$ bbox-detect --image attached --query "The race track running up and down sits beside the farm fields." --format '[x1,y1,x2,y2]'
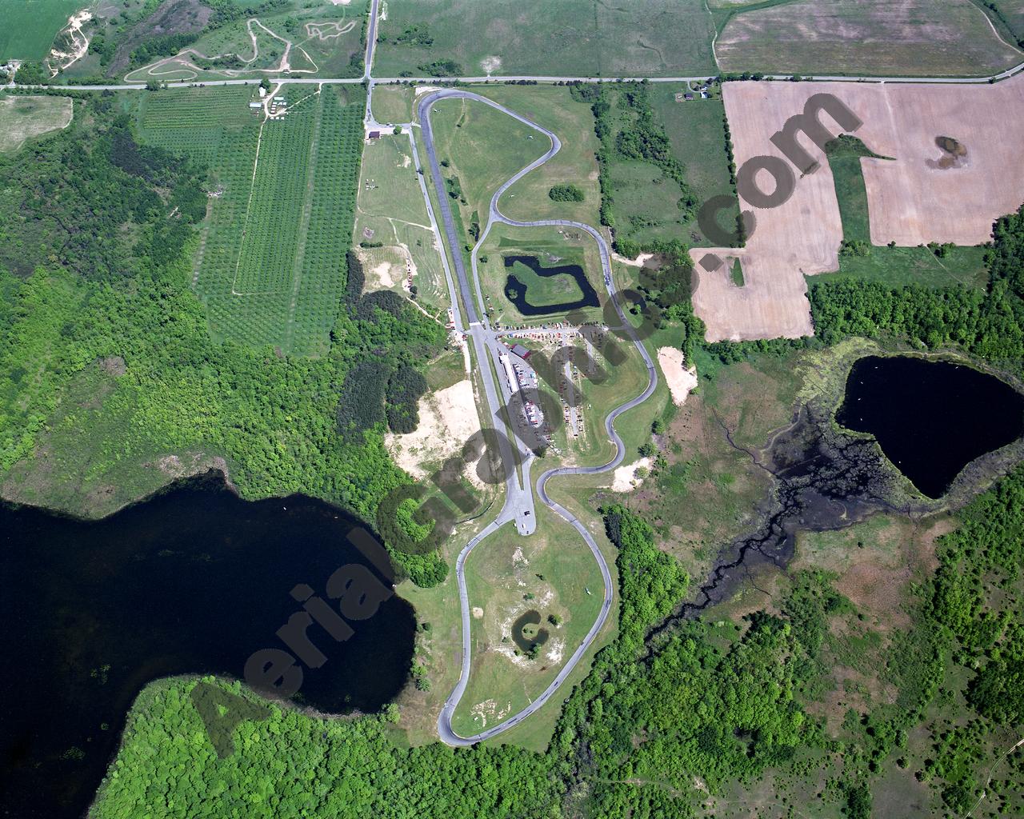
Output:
[419,90,658,746]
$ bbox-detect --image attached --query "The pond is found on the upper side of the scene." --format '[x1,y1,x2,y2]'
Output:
[504,256,599,315]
